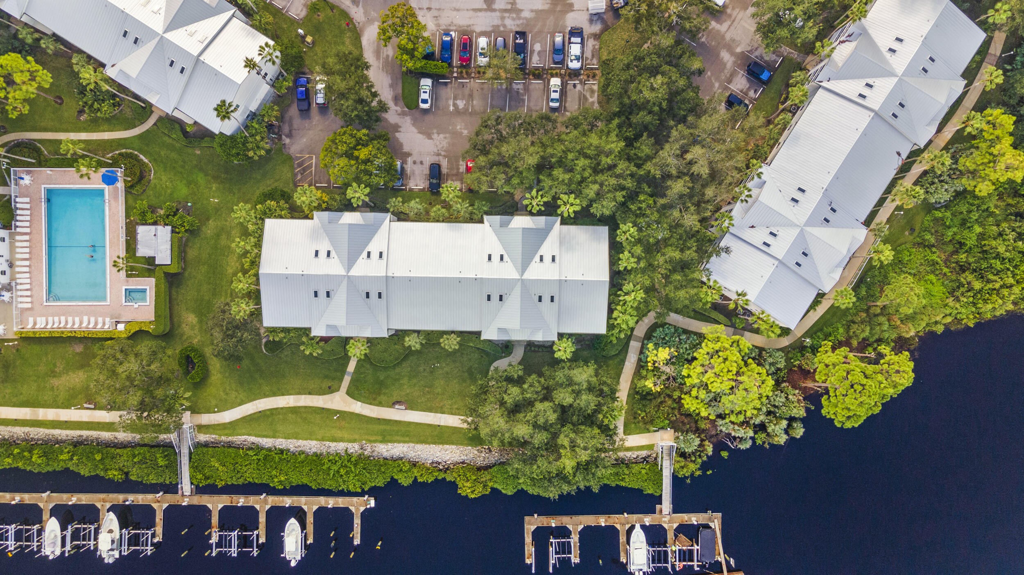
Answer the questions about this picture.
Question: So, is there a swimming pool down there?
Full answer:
Yes, I can see a swimming pool in this picture.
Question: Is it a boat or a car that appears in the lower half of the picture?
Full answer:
What appears in the lower half of the picture is a boat.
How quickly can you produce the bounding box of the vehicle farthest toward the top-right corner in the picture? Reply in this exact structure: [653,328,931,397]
[743,60,772,84]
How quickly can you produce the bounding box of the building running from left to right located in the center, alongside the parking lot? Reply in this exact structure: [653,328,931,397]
[259,197,611,356]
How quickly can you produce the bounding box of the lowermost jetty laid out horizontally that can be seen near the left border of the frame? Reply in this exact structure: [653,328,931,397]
[0,494,374,544]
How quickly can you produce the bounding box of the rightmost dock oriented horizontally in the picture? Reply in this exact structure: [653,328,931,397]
[525,513,722,564]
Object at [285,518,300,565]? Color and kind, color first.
white boat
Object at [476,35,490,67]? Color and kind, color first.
white car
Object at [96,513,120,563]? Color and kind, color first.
white boat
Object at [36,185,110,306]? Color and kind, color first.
blue swimming pool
